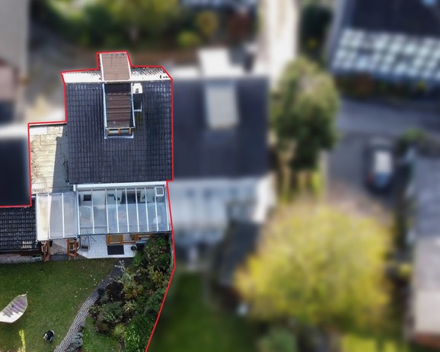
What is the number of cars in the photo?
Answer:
1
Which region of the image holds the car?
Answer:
right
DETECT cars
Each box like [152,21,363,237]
[363,145,397,194]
